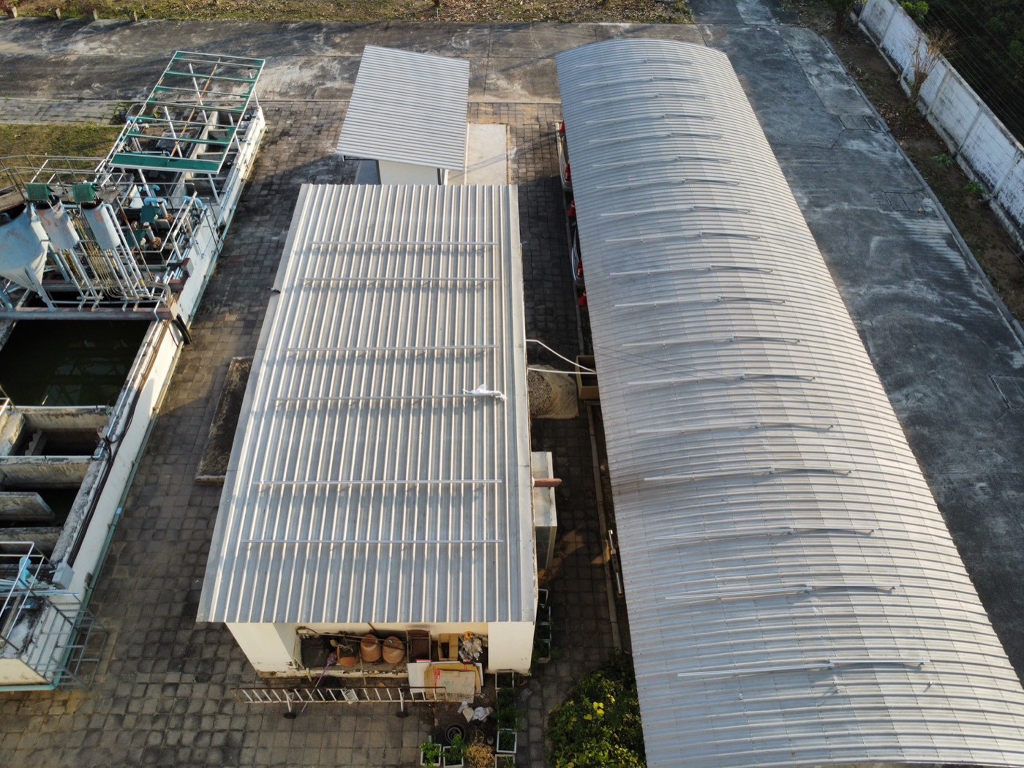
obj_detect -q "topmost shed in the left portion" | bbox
[338,45,470,185]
